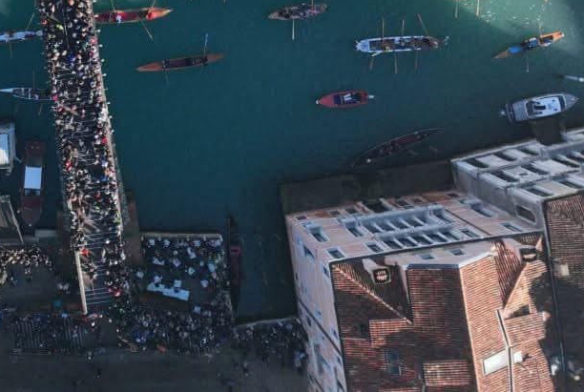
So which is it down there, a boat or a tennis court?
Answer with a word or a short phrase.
boat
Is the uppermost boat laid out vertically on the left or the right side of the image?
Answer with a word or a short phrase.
left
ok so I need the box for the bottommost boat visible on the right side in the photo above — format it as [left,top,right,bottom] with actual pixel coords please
[351,129,450,173]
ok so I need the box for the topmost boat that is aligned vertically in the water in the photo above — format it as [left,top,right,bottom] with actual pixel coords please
[22,141,43,227]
